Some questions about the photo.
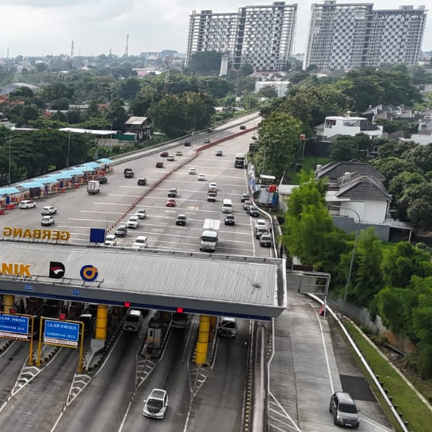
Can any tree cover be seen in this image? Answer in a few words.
Yes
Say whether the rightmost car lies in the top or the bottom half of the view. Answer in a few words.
bottom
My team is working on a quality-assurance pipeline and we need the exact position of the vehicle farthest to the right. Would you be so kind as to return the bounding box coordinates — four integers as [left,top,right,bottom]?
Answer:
[331,392,361,424]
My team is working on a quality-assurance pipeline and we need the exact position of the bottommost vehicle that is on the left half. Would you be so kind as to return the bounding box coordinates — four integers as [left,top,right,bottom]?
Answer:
[143,390,168,417]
